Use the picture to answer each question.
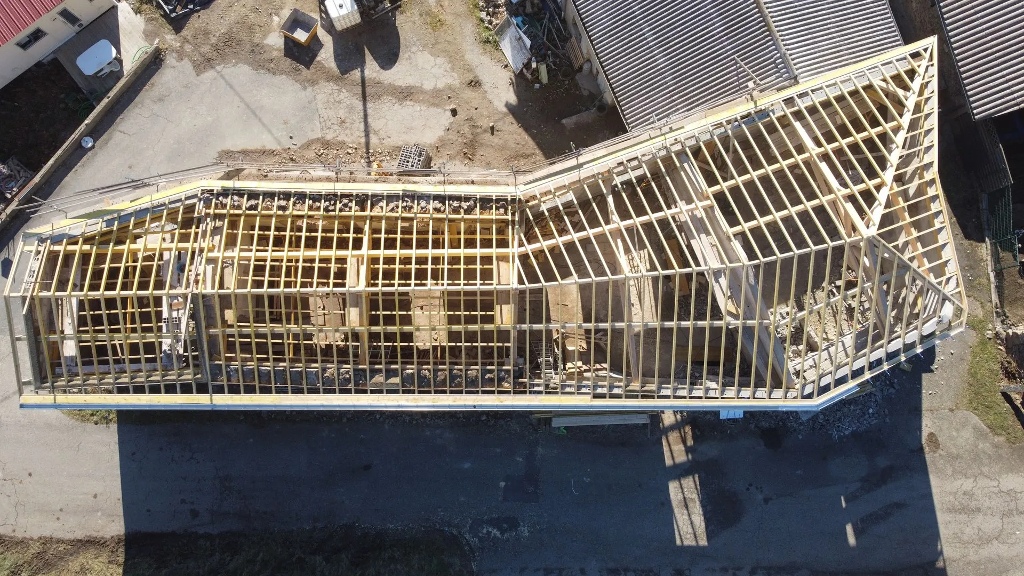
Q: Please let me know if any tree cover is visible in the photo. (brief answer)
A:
No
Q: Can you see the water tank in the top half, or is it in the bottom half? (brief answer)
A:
top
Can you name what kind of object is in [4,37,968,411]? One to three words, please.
house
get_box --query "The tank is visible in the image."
[326,0,364,32]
